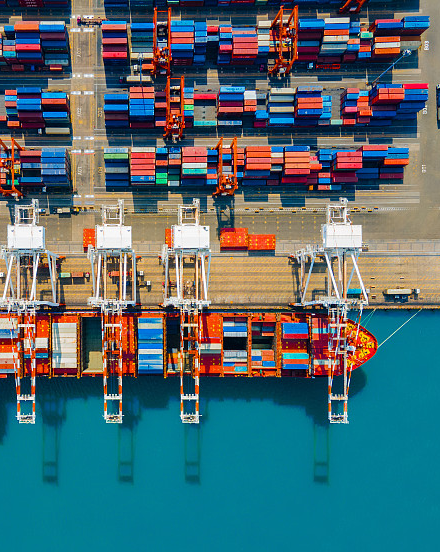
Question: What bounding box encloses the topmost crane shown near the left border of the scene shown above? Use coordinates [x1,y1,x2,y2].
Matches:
[0,135,26,200]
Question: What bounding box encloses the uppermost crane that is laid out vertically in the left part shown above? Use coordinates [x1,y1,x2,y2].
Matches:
[148,5,174,78]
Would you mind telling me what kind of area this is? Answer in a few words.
port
